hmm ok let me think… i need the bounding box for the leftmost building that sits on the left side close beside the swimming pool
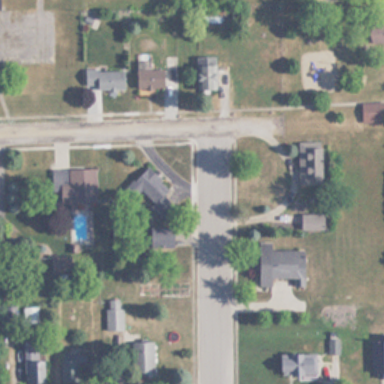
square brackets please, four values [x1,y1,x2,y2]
[52,168,97,210]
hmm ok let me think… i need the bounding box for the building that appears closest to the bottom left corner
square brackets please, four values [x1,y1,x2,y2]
[24,352,46,384]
